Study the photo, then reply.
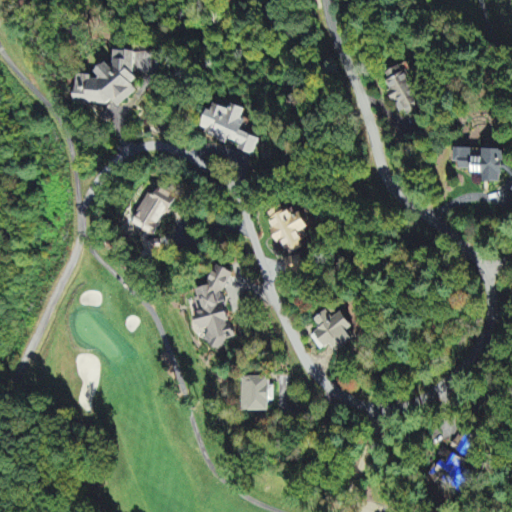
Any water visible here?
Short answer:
No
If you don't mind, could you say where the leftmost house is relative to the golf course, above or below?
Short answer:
above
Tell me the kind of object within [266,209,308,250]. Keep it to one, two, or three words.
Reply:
house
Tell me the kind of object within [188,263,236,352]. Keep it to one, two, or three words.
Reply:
house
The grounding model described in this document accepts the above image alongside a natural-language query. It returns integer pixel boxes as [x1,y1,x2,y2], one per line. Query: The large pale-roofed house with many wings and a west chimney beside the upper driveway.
[68,46,135,104]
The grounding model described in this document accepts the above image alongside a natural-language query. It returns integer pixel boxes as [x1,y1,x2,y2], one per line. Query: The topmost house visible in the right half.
[384,66,418,111]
